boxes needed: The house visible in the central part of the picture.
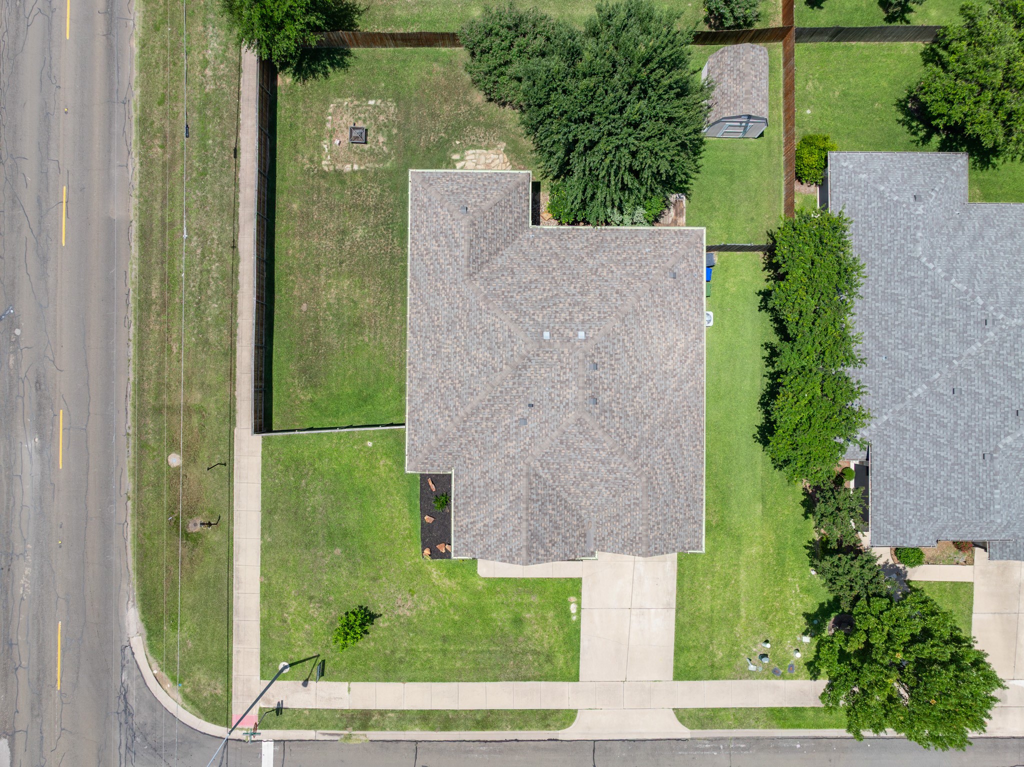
[406,167,708,566]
